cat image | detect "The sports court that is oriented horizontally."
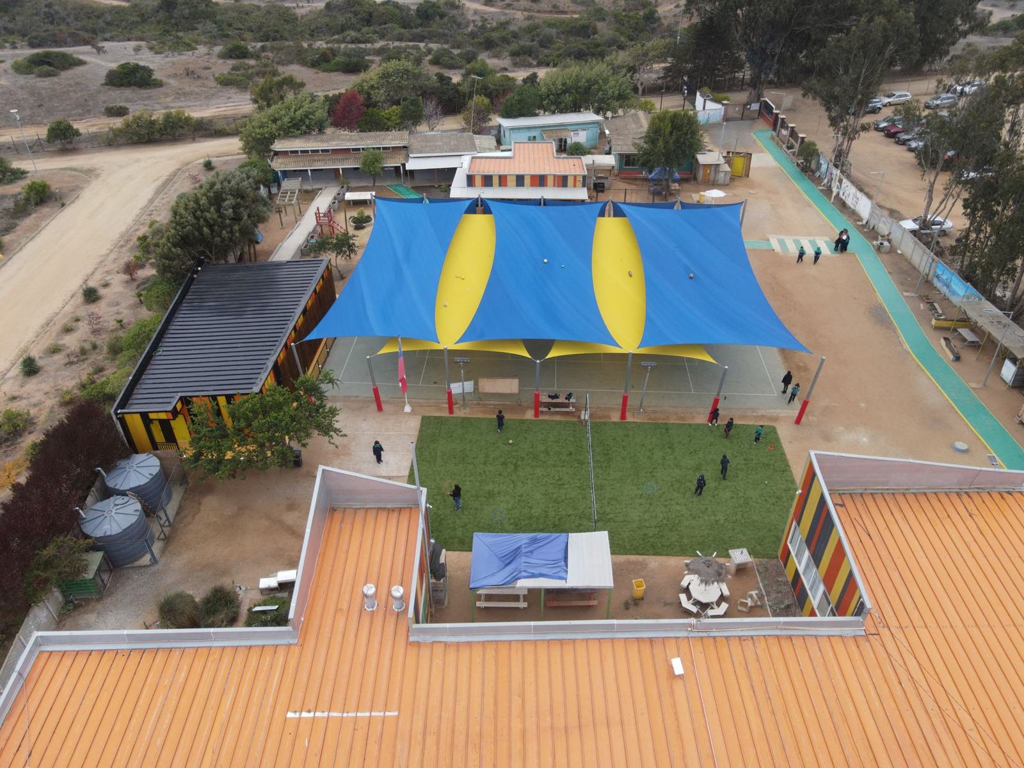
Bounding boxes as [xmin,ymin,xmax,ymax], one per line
[314,335,801,410]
